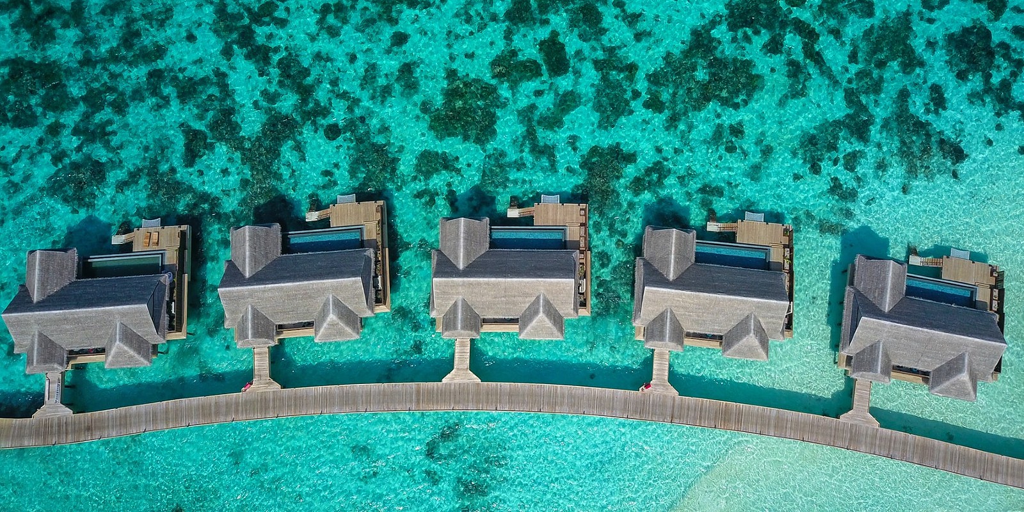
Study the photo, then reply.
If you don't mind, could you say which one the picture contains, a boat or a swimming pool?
swimming pool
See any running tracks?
No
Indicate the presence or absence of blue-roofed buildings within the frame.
No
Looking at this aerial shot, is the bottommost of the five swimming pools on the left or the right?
right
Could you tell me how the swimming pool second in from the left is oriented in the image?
horizontally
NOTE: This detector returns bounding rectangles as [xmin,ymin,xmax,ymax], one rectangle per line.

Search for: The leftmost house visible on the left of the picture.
[1,219,194,374]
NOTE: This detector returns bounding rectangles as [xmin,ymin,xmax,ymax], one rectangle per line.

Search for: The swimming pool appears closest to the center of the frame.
[488,226,568,252]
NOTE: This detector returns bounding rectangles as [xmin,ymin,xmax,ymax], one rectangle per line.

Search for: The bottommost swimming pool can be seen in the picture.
[904,273,977,310]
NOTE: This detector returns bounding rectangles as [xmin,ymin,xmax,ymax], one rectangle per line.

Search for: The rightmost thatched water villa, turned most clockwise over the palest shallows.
[836,249,1008,402]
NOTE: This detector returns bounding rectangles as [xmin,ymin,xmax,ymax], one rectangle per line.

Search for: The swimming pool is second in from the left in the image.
[286,226,366,256]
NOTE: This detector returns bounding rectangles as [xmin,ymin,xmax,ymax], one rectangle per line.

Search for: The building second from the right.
[631,213,794,361]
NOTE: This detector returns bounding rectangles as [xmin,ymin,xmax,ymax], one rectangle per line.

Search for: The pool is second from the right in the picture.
[694,240,771,271]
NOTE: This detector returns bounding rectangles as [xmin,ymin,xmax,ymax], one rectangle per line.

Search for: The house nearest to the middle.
[427,195,591,341]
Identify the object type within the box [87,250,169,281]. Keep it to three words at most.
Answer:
swimming pool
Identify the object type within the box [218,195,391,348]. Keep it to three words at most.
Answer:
house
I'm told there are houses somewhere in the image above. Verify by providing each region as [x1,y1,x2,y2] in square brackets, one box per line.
[427,195,591,341]
[836,249,1008,402]
[631,213,794,361]
[218,195,391,348]
[1,219,194,374]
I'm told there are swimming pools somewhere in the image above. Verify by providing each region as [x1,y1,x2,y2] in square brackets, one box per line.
[286,226,366,256]
[488,226,568,252]
[694,240,771,271]
[87,250,169,281]
[904,273,977,310]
